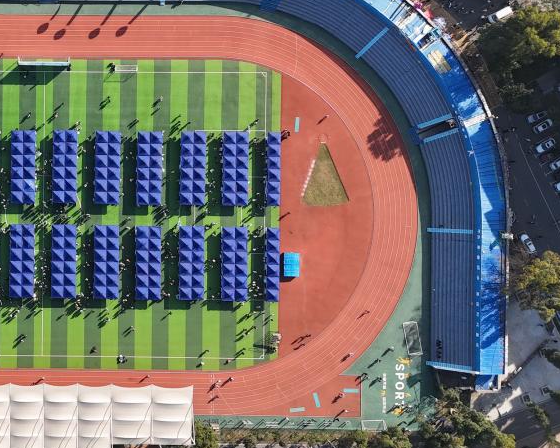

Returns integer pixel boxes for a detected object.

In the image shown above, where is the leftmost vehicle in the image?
[485,4,515,23]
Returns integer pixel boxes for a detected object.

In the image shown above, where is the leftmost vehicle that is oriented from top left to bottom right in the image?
[518,234,535,252]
